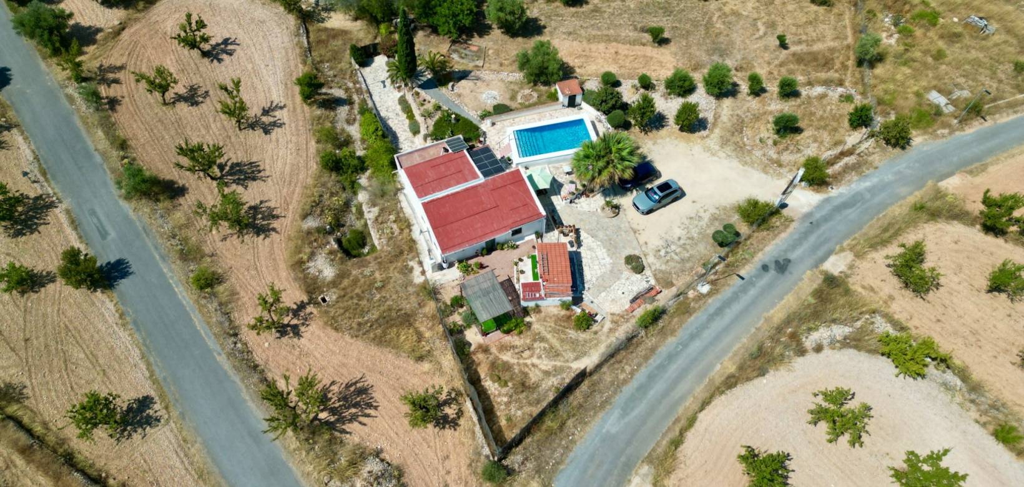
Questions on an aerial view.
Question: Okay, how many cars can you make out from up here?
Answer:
2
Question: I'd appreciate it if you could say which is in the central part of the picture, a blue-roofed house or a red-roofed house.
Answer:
red-roofed house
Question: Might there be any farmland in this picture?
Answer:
Yes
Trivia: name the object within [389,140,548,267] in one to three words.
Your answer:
house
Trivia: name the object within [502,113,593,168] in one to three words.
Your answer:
swimming pool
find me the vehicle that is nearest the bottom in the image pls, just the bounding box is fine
[632,179,683,215]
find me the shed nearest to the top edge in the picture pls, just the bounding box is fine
[559,71,584,105]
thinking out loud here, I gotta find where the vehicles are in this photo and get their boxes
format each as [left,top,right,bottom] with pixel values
[618,159,660,192]
[632,179,683,215]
